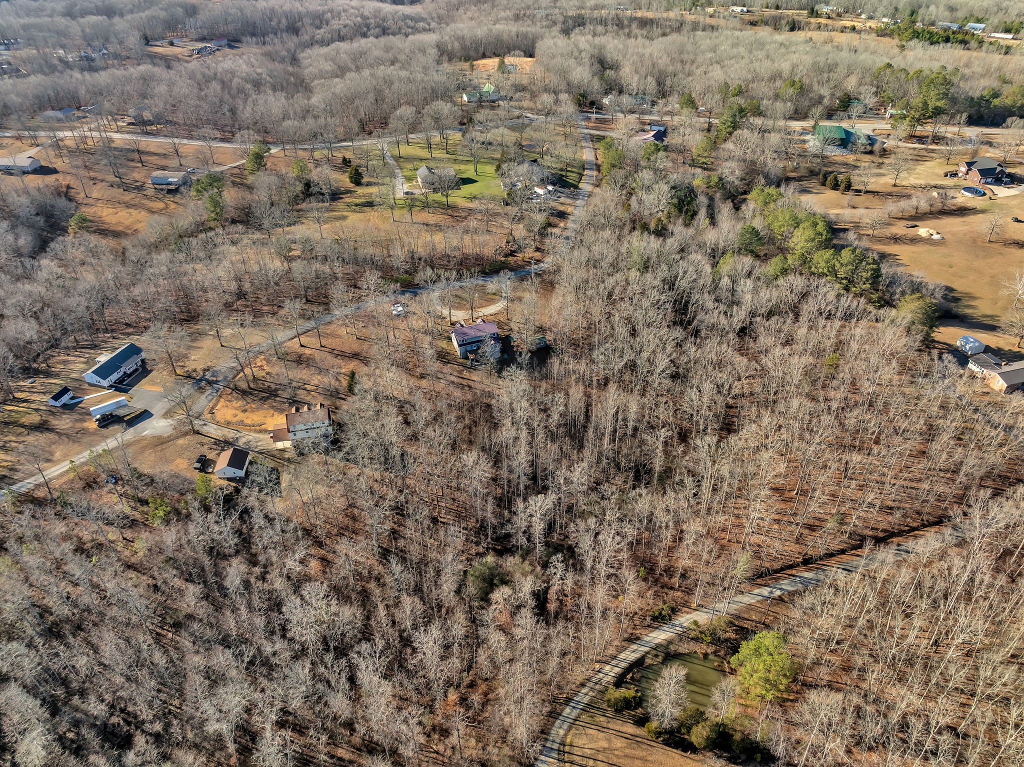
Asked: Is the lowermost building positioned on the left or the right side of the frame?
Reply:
left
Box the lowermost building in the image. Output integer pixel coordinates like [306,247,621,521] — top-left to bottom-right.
[212,438,256,479]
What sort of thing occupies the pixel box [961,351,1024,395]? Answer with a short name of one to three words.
house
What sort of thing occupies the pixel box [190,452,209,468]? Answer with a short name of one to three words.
vehicle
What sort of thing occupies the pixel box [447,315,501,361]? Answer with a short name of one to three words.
house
